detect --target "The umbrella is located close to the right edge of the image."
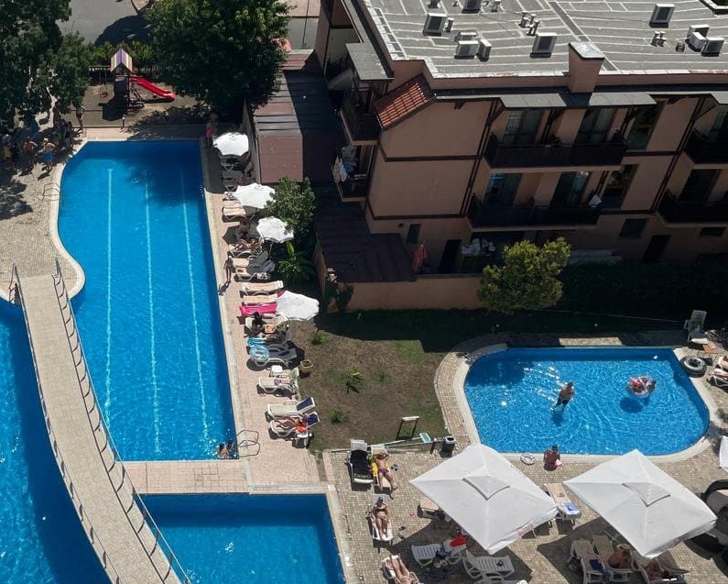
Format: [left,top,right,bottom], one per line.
[561,450,717,560]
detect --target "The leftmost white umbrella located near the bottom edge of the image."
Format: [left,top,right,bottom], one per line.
[410,443,557,557]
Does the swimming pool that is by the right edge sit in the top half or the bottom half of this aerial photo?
bottom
